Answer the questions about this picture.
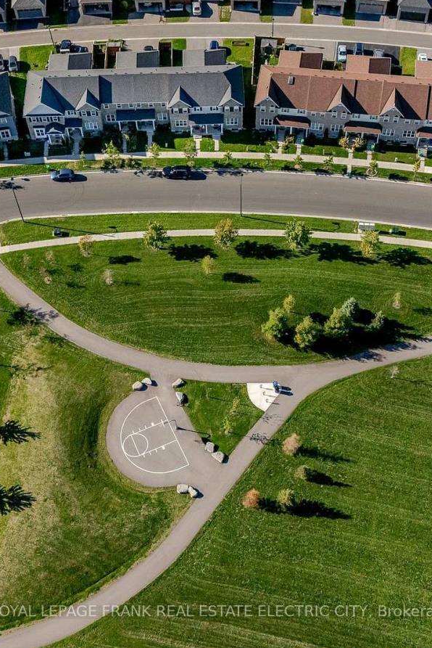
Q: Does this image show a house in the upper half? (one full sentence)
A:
Yes, in the upper half there is a house.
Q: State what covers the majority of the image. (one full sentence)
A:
The bulk of the photo consists of grass.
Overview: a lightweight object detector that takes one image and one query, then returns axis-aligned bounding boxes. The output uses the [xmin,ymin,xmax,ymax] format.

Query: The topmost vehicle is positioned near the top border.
[190,0,203,18]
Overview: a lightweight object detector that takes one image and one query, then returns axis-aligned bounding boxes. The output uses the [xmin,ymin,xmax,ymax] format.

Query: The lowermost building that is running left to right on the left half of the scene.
[22,48,245,156]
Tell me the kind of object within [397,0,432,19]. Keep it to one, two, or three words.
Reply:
building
